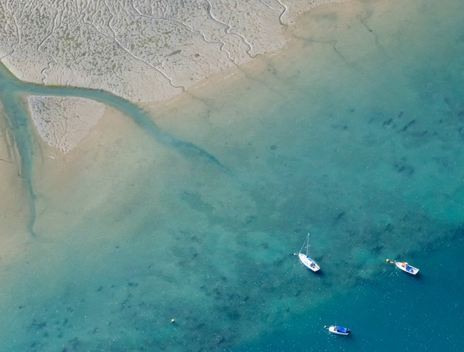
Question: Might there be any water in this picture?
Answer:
Yes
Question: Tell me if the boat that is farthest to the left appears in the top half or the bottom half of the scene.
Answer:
bottom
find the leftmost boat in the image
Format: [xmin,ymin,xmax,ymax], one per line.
[300,237,320,272]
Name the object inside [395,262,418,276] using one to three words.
boat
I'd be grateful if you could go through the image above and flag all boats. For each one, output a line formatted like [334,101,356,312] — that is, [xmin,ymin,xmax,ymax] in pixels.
[300,237,320,272]
[395,262,418,276]
[329,326,352,336]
